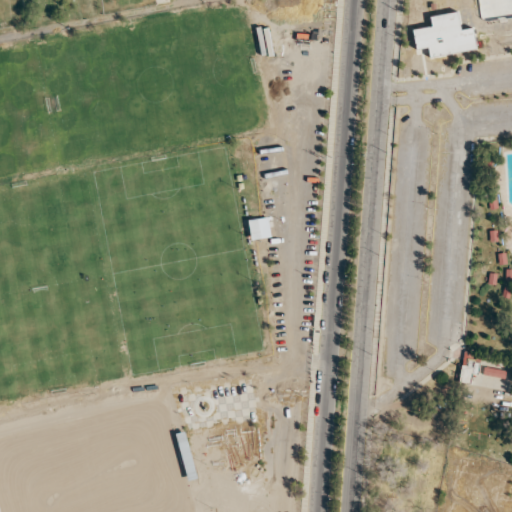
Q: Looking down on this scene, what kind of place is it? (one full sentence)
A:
This image shows a sports ground.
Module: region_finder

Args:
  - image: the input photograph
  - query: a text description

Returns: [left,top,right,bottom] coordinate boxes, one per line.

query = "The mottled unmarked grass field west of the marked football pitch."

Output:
[0,169,131,398]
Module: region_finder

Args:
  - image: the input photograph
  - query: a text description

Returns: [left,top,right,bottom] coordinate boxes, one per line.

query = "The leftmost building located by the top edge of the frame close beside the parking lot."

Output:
[414,11,478,58]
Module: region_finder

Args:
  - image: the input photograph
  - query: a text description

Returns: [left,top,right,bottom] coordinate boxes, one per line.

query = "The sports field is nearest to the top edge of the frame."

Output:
[0,8,267,180]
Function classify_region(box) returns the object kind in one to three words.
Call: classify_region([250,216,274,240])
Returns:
building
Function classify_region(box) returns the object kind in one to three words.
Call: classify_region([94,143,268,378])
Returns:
soccer field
